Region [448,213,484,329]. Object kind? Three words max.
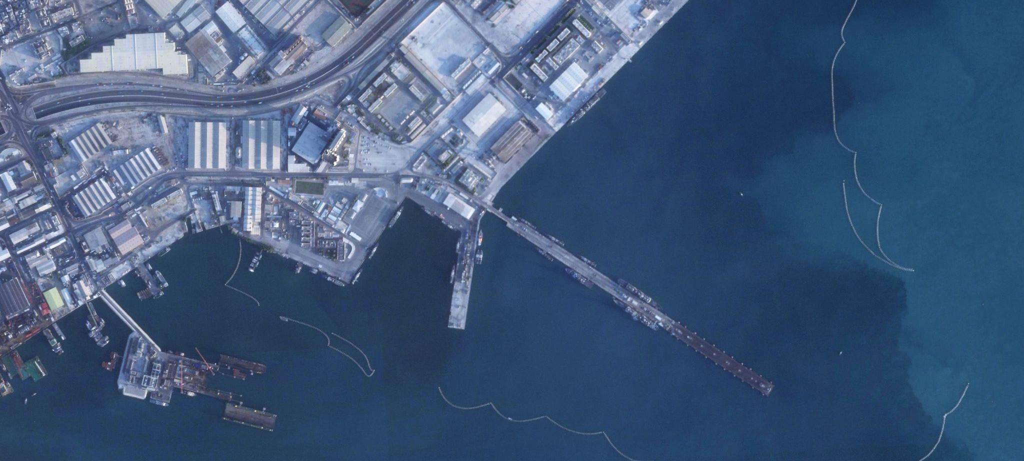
pier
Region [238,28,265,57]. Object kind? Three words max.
building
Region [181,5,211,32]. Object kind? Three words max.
building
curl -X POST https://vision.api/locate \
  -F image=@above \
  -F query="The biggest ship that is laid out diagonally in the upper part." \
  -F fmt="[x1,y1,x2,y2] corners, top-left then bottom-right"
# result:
[568,89,606,126]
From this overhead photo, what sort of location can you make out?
port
